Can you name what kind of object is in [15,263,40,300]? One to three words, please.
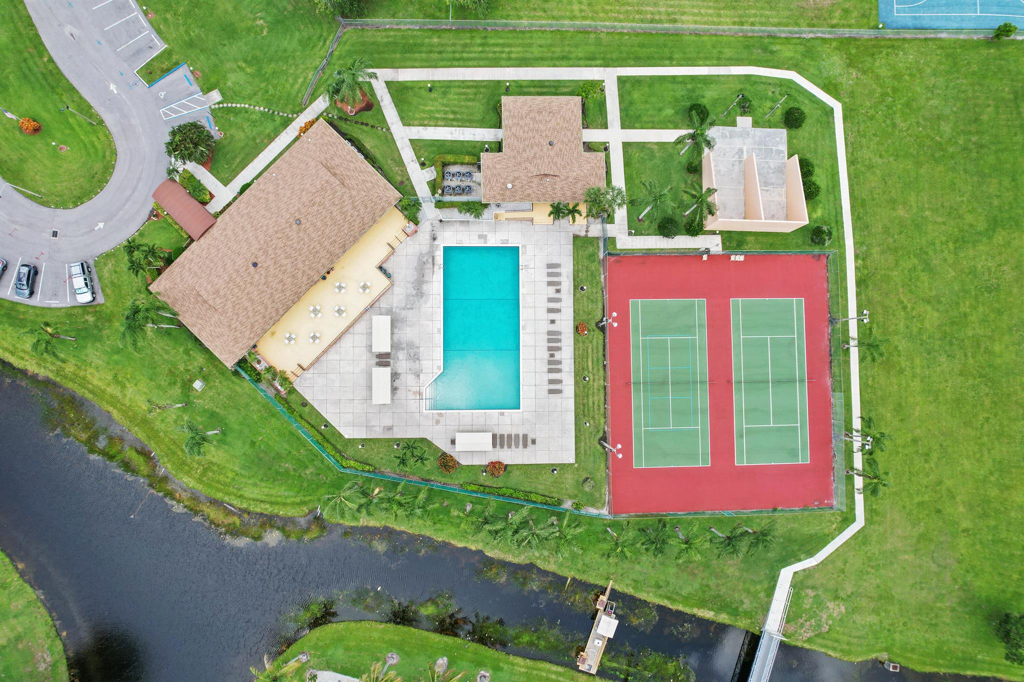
car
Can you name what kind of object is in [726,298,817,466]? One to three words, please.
tennis court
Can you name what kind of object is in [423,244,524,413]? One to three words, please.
swimming pool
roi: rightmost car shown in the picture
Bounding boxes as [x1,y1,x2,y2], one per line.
[67,261,95,305]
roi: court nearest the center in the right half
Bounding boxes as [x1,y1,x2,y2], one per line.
[625,298,717,468]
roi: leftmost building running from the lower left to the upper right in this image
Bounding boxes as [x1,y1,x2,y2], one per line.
[151,119,402,368]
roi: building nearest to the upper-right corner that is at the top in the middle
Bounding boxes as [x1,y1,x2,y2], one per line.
[481,96,606,203]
